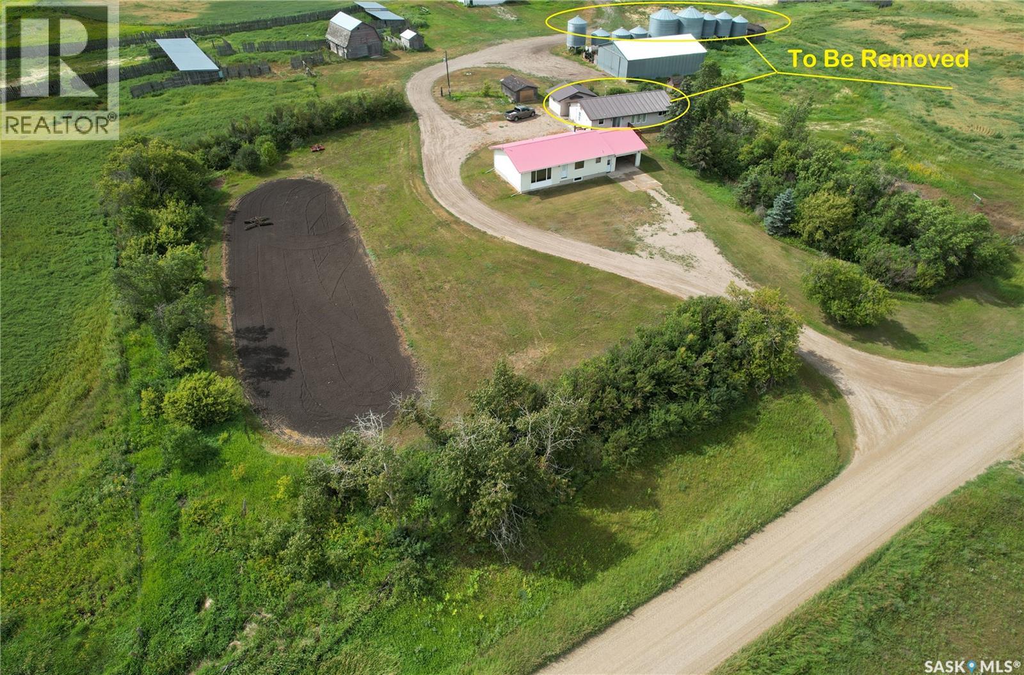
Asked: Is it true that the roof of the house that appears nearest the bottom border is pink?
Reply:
Yes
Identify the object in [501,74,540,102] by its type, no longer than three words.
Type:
building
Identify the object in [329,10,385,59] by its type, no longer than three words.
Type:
barn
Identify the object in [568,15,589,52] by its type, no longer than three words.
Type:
silo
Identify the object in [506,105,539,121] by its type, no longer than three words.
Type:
vehicle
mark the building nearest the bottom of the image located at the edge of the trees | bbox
[486,129,648,197]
